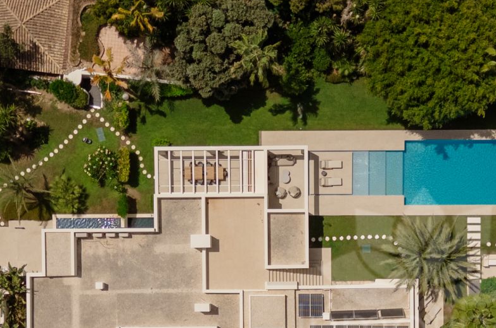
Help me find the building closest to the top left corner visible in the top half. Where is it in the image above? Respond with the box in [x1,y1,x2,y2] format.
[0,0,82,78]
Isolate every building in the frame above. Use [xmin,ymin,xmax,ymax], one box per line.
[0,0,82,78]
[27,146,419,328]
